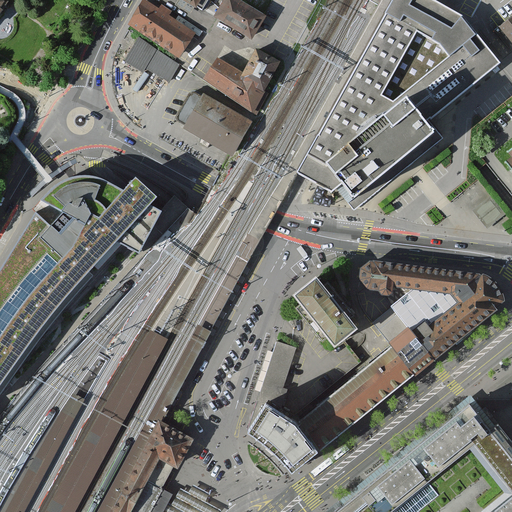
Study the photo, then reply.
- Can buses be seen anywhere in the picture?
Yes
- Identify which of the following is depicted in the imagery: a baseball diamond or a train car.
train car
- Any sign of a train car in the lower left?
Yes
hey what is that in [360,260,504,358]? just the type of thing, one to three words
building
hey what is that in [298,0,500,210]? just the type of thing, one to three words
building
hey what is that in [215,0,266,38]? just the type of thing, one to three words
house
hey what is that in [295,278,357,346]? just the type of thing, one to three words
house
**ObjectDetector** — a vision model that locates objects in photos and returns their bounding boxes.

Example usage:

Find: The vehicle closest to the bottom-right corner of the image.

[308,445,350,478]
